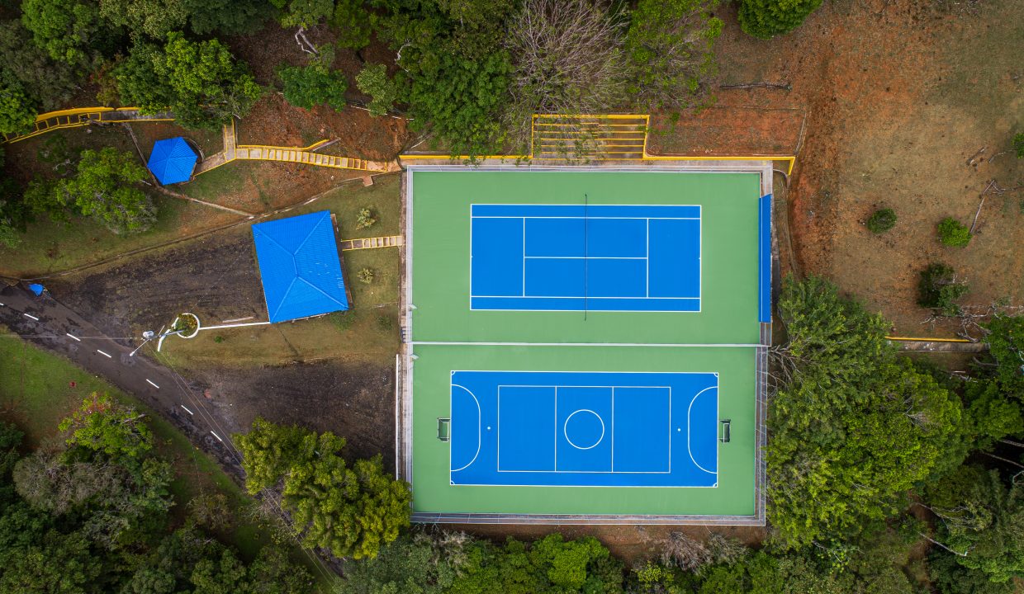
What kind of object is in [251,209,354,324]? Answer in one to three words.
building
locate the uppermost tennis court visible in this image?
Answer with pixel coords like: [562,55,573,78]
[412,172,760,346]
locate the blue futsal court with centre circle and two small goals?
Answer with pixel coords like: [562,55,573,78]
[412,344,755,516]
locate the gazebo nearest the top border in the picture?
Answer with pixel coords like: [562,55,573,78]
[147,136,207,188]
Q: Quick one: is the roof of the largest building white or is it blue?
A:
blue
